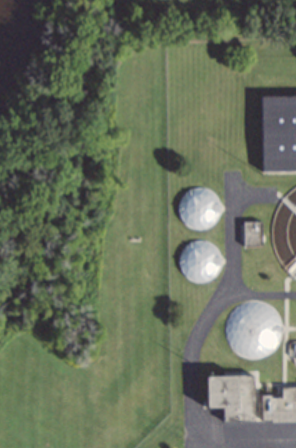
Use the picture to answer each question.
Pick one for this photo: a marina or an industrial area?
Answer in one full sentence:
The picture captures an industrial area.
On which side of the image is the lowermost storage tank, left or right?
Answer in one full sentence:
You can find the lowermost storage tank on the right side of the picture.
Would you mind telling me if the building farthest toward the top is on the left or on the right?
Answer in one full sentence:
The building farthest toward the top appears in the right half of the scene.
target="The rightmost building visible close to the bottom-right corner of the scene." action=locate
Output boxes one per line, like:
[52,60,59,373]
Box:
[263,388,296,423]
